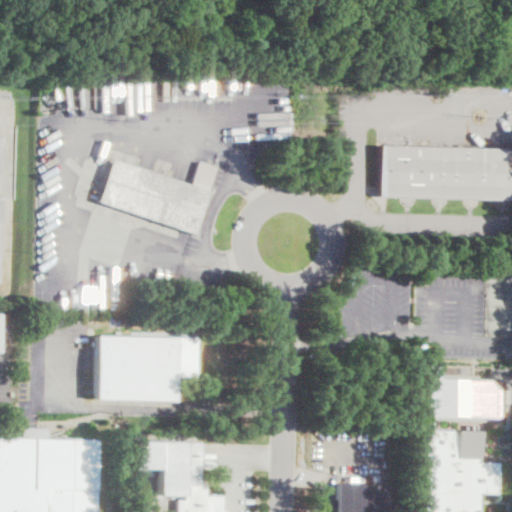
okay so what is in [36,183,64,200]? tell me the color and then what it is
white vehicle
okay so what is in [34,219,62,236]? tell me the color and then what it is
white vehicle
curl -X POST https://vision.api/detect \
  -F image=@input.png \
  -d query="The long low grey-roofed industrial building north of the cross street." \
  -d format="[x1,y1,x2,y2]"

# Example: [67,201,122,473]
[380,146,512,201]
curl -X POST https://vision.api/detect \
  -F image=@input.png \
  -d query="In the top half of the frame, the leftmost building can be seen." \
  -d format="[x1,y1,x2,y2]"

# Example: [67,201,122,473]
[98,160,218,236]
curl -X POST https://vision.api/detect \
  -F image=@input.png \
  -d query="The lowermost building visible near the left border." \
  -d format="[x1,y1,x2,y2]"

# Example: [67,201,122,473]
[0,428,102,512]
